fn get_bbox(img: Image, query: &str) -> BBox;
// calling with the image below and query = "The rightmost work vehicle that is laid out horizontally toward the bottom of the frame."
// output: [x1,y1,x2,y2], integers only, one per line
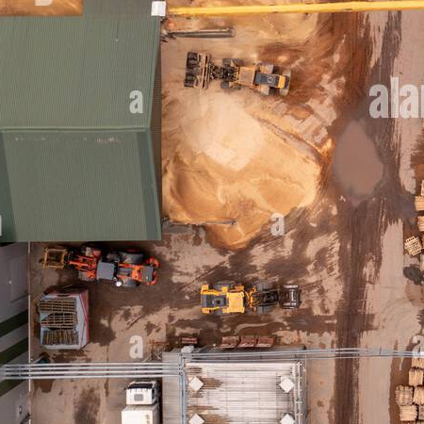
[199,280,299,317]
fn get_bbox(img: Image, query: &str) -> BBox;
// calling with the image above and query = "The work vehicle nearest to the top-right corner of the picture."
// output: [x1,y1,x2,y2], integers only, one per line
[190,50,292,95]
